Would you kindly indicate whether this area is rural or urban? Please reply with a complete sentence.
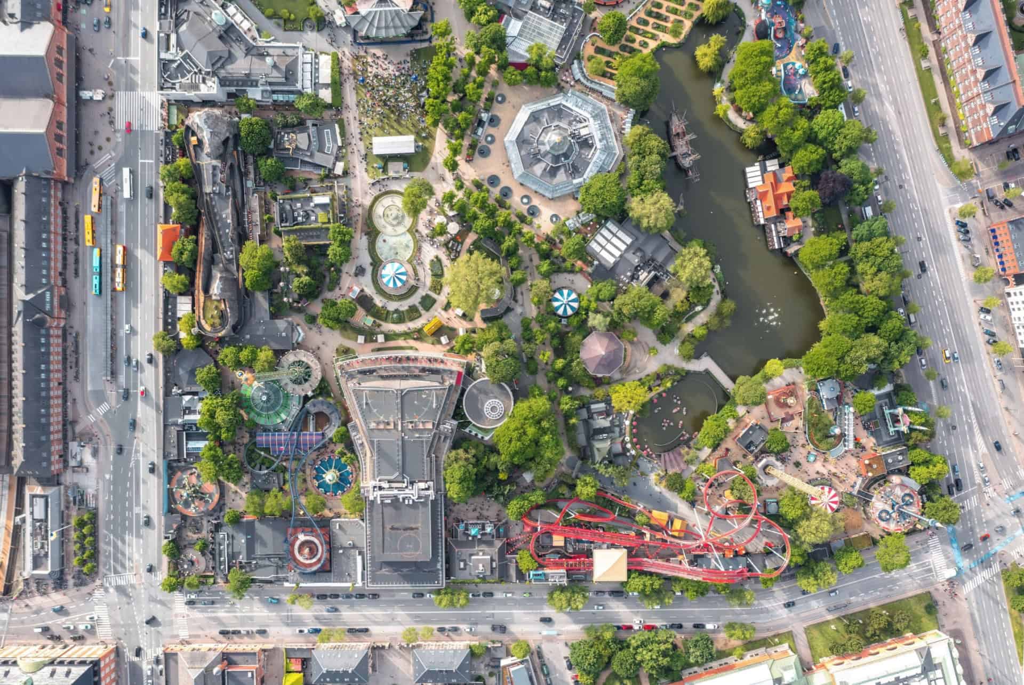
This place is urban.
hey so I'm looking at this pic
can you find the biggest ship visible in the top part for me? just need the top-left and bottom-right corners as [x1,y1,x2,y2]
[670,95,701,170]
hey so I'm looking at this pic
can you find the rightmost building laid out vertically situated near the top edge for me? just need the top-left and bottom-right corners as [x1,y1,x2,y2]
[936,0,1024,149]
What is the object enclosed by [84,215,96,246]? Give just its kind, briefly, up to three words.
vehicle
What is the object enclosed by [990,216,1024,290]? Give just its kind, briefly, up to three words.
house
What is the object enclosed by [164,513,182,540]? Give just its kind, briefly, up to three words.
shed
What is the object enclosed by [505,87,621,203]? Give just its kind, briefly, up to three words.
building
